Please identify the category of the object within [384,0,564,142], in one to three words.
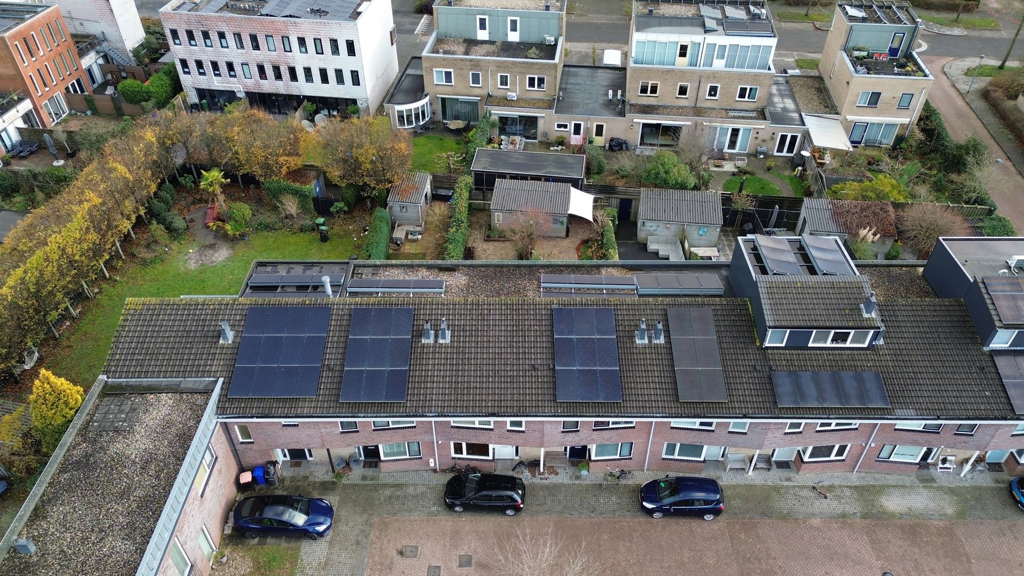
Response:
house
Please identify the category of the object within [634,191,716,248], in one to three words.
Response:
shed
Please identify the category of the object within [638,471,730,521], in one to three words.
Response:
car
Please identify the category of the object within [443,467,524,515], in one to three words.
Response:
car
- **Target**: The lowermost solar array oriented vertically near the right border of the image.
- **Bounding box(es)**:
[994,352,1024,414]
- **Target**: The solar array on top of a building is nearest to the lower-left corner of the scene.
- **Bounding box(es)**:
[227,305,329,396]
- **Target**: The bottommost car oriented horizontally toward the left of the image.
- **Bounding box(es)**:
[232,492,336,541]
